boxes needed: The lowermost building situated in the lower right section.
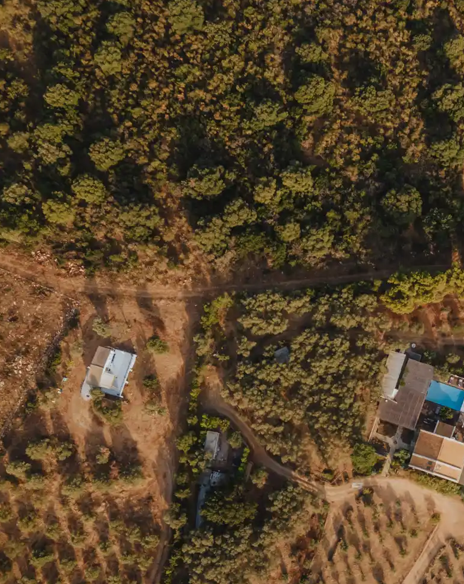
[409,419,464,481]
